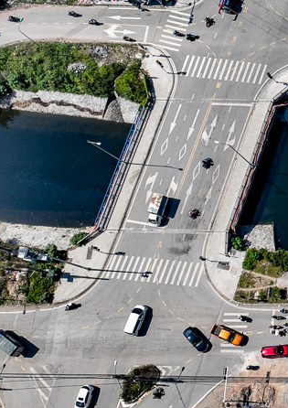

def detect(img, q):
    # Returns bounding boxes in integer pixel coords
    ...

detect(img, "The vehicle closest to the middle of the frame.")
[147,191,168,227]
